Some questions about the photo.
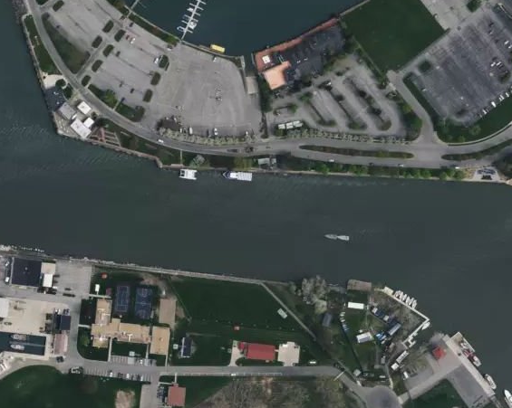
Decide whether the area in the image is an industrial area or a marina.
marina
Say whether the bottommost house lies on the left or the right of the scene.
left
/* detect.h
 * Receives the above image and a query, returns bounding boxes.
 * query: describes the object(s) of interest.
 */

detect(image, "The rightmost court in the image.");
[135,288,152,319]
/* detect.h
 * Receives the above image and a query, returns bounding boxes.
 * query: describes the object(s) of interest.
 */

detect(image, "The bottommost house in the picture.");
[168,387,188,407]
